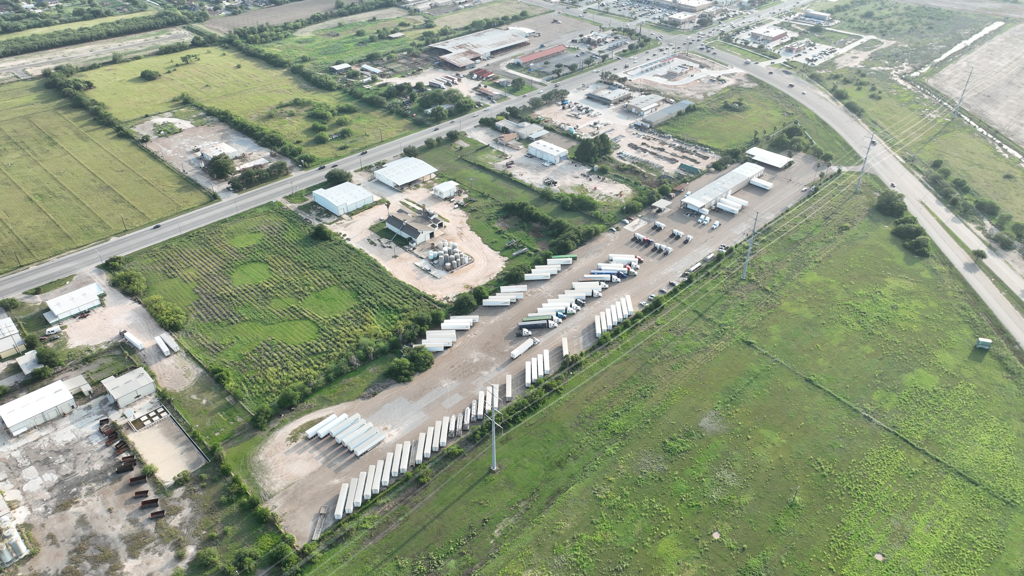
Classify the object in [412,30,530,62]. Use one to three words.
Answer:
barn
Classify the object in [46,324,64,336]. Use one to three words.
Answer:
vehicle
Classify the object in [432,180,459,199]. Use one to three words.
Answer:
building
